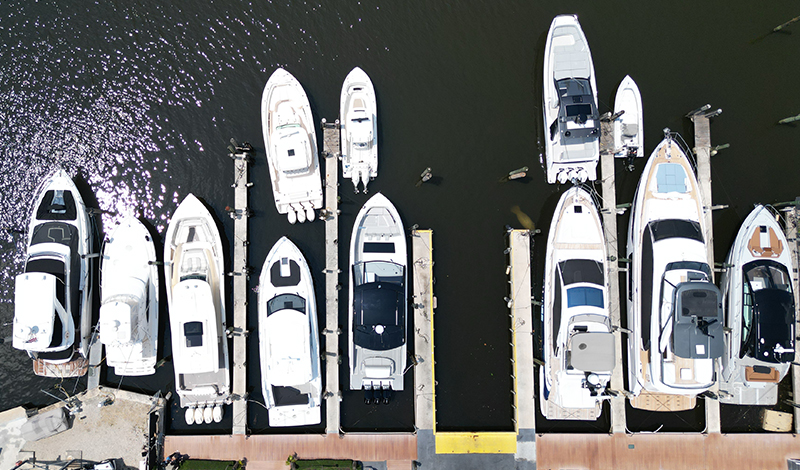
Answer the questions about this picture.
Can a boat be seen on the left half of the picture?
Yes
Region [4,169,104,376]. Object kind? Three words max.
boat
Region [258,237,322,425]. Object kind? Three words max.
boat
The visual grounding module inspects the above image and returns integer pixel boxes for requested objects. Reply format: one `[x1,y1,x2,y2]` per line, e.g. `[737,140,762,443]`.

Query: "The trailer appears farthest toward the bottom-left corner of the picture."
[11,450,101,470]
